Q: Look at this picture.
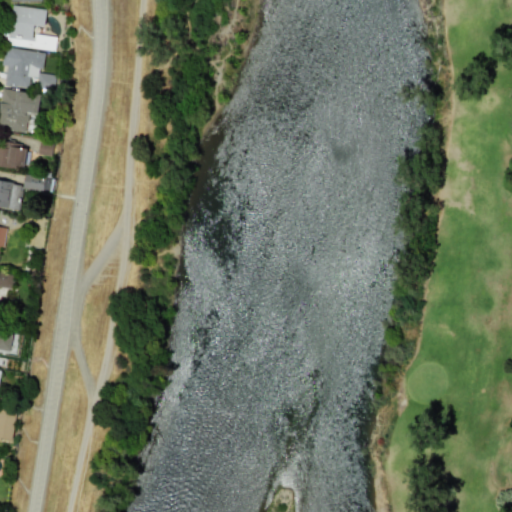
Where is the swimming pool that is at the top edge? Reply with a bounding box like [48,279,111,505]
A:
[48,16,62,36]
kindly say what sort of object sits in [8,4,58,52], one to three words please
house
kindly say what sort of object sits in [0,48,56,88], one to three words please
house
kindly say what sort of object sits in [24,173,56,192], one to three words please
shed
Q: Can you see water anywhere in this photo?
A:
Yes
